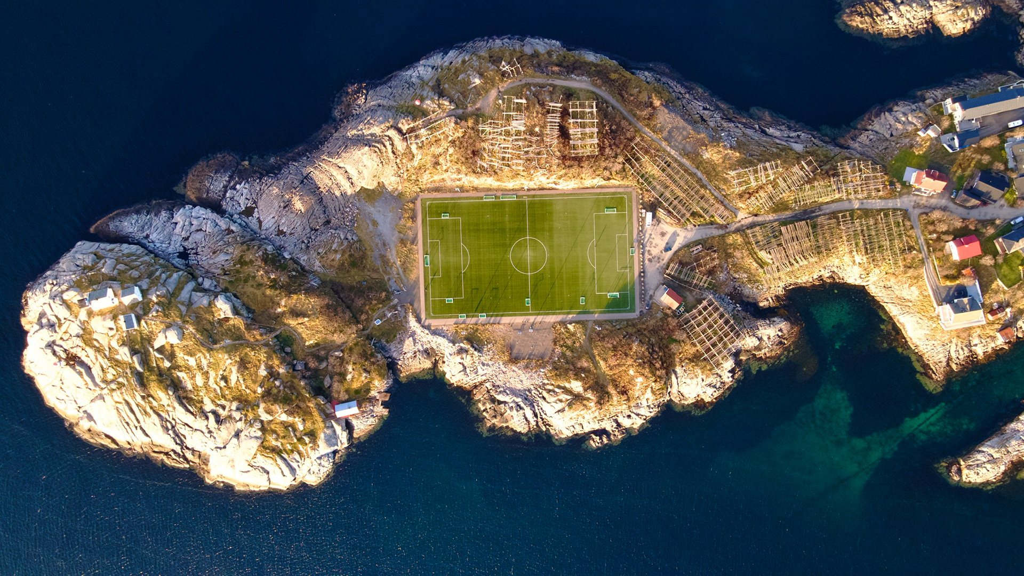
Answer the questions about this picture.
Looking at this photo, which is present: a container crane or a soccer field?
soccer field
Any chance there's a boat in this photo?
No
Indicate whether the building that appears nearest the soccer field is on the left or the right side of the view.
right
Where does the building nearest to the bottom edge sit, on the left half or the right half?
left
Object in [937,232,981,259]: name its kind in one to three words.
house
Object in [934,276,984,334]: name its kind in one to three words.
house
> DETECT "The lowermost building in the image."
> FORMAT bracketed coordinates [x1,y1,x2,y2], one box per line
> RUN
[333,398,383,418]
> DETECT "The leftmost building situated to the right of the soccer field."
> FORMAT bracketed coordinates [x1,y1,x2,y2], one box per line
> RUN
[659,287,684,311]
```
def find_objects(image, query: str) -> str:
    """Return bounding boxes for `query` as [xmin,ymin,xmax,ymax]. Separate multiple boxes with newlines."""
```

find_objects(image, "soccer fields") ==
[421,191,636,319]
